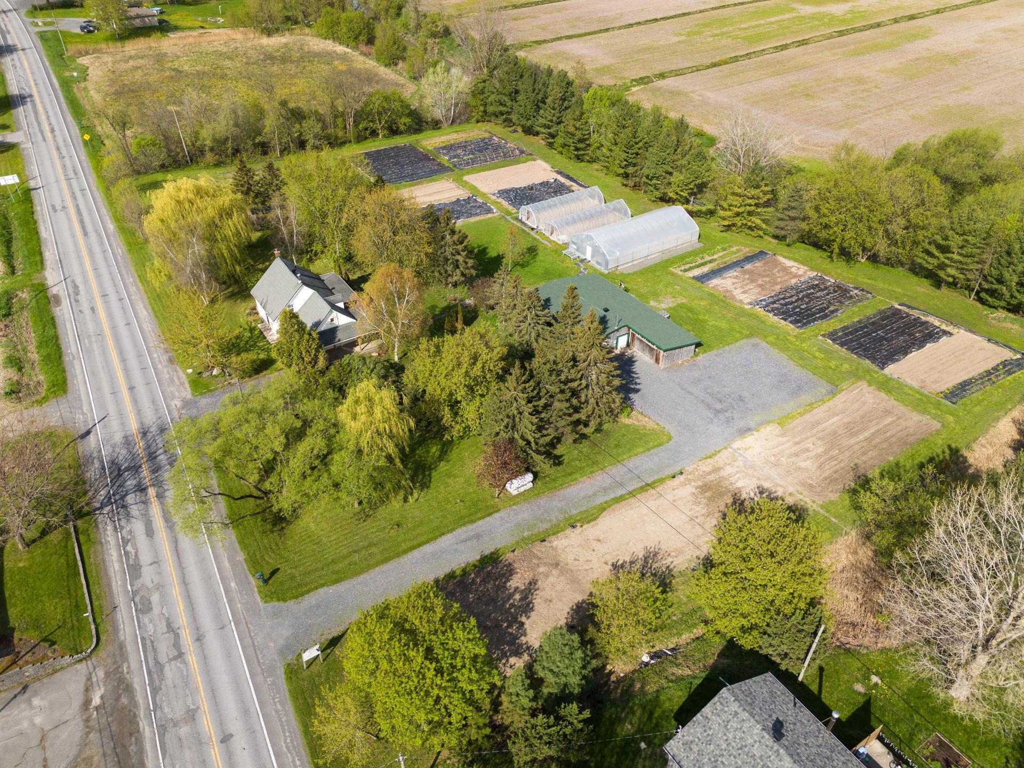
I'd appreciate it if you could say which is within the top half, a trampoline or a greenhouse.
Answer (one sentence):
Looking within the top half, you will find a greenhouse.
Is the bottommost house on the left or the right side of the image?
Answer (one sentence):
The bottommost house appears in the right half of the scene.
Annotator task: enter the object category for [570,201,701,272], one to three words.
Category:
greenhouse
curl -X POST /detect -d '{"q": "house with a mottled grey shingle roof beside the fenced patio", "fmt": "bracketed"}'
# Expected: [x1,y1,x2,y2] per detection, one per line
[660,665,870,768]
